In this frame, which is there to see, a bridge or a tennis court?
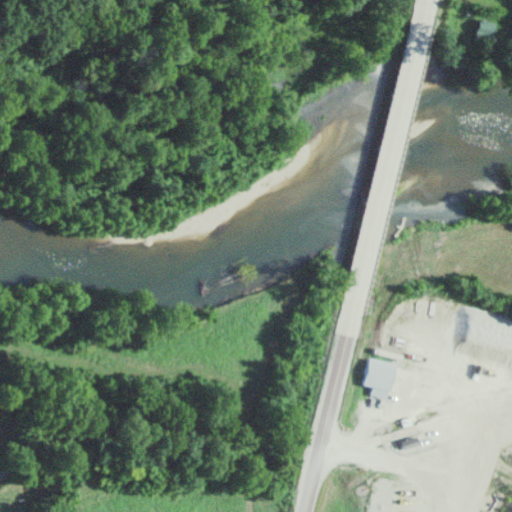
bridge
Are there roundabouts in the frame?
No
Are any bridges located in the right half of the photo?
Yes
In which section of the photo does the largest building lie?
bottom right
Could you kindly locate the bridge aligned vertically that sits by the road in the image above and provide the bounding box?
[336,28,434,339]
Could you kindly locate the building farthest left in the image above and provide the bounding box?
[362,359,396,400]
